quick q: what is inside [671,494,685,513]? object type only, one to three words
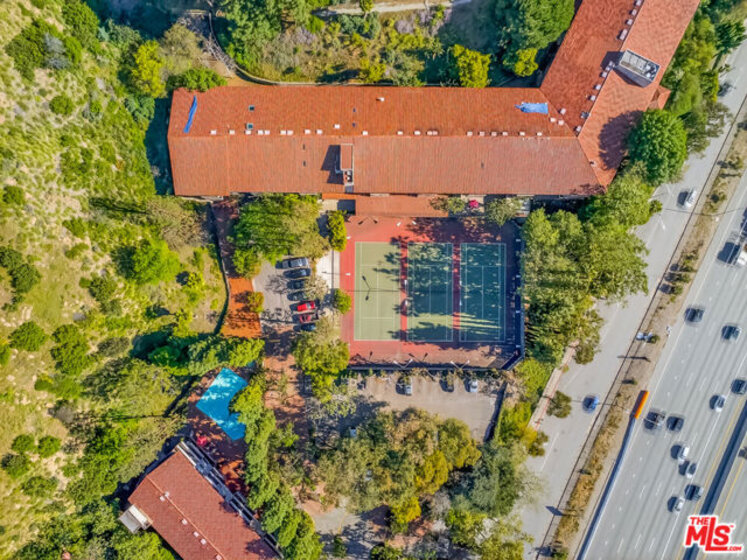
vehicle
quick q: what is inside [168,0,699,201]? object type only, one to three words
building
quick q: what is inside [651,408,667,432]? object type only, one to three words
vehicle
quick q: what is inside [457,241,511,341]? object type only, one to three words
tennis court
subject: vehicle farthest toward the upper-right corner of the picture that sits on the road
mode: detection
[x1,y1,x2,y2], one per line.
[721,78,736,98]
